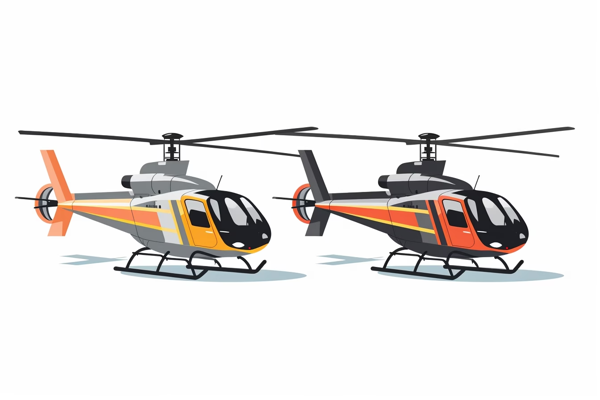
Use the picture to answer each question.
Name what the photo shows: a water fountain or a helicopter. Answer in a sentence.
Of the two, only a helicopter appears.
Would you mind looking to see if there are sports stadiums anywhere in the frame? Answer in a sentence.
No, the scene contains no sports stadium.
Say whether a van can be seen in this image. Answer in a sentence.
No, no van can be seen from above.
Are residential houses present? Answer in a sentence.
No, the photo shows no residential house.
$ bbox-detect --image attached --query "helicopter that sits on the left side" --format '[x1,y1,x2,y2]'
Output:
[18,127,319,281]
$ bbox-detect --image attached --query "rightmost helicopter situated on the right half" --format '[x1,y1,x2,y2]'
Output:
[275,128,577,281]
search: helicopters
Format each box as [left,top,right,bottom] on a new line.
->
[275,128,577,281]
[18,127,319,281]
